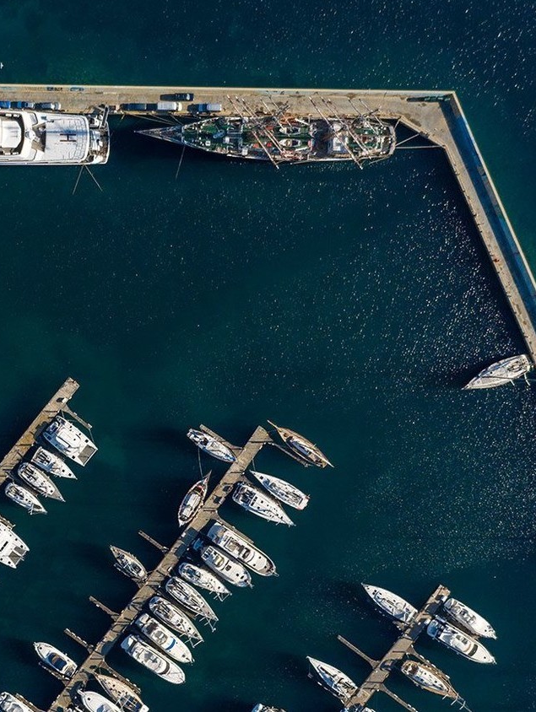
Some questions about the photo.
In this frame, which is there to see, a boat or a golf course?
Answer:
boat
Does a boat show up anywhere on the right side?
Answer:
Yes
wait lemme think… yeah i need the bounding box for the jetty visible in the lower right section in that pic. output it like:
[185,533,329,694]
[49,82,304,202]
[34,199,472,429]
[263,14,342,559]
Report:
[315,584,480,712]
